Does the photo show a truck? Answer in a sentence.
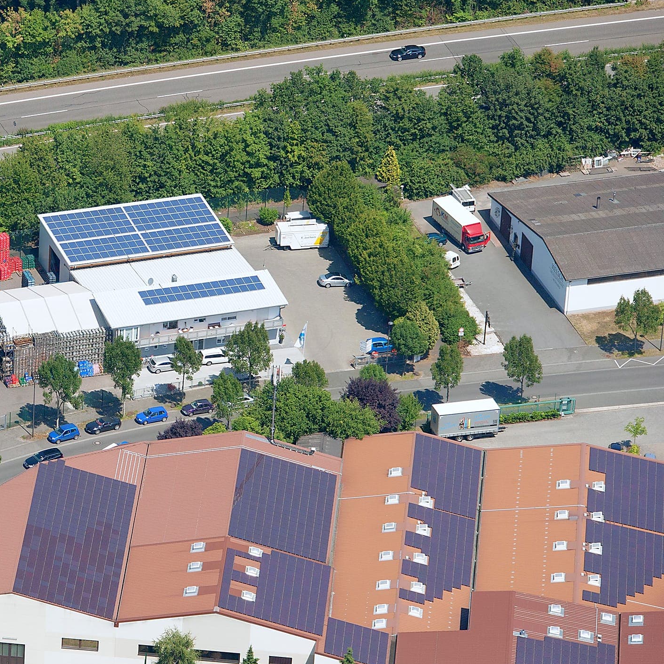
Yes, the frame does contain a truck.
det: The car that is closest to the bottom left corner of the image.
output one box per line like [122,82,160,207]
[22,444,62,468]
